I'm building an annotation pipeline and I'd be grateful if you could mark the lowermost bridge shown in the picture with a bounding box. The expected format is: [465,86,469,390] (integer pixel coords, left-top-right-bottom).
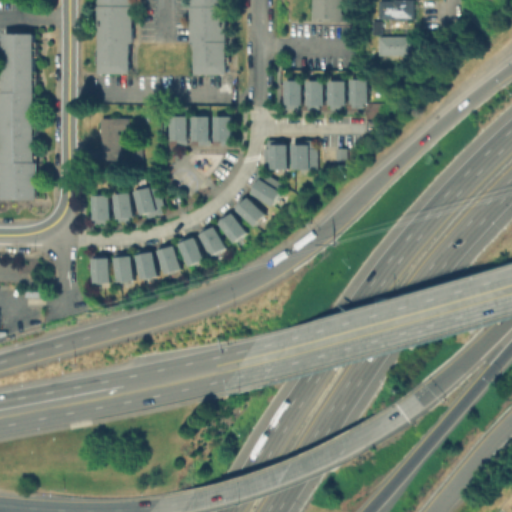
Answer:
[154,402,410,512]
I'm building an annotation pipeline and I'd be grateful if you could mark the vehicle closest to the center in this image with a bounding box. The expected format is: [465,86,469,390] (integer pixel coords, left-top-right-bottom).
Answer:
[269,252,291,270]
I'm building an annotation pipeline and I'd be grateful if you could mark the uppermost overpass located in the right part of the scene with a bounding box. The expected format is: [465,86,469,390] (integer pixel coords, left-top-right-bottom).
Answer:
[227,264,512,393]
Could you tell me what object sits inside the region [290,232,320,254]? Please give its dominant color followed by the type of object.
white truck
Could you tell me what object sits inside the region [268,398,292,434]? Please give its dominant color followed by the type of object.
white truck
